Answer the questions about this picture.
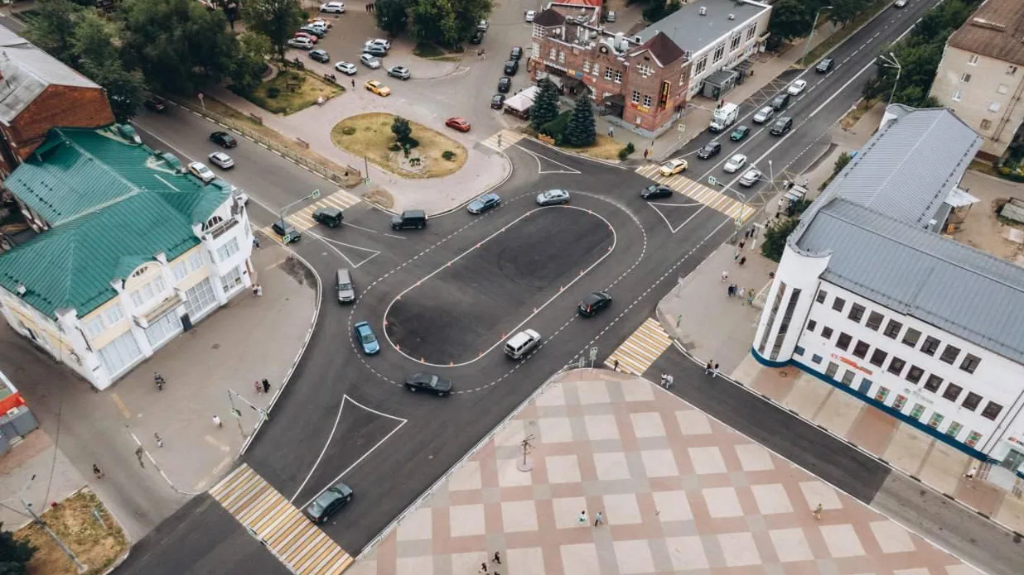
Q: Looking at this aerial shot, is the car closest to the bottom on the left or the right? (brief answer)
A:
left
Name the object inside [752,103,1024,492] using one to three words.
building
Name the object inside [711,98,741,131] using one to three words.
truck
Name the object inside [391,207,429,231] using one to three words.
car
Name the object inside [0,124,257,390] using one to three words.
building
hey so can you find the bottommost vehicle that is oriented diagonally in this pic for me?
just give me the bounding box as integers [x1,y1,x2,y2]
[300,482,359,530]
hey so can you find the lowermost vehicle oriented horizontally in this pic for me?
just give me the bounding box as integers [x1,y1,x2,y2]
[402,372,455,399]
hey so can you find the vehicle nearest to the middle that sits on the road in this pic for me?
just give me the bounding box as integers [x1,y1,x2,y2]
[501,330,543,363]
